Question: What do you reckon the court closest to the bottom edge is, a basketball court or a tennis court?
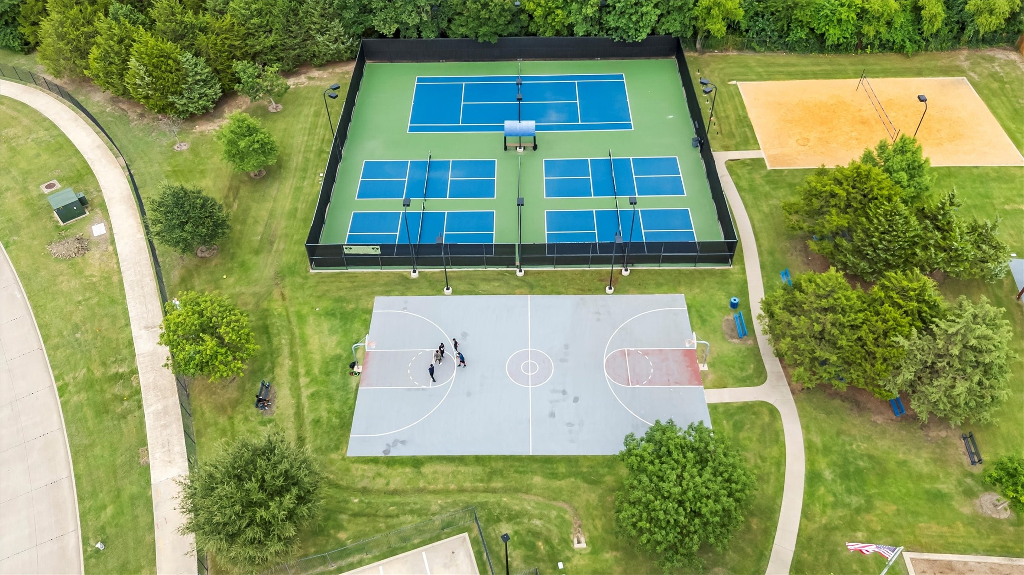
basketball court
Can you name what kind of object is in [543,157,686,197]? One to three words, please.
sports court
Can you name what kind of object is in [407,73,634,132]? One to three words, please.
tennis court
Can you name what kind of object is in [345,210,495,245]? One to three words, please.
sports court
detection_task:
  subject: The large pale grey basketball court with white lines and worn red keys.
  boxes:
[347,293,714,456]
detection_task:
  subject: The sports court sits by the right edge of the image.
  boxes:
[737,76,1024,169]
